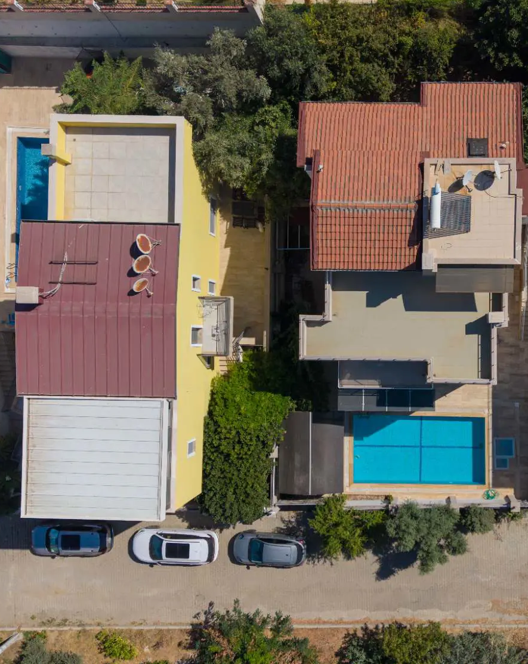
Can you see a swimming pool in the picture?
Yes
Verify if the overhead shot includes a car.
Yes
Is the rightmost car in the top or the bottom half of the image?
bottom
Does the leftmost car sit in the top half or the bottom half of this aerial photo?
bottom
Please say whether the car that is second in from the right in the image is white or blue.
white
